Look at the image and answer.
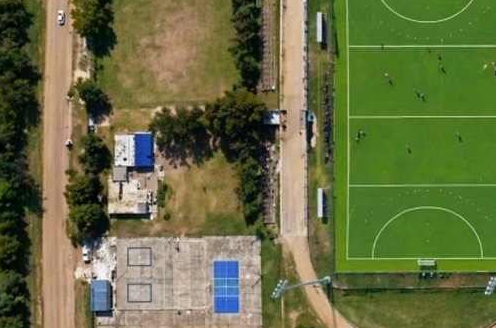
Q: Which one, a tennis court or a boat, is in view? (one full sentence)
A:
I can see a tennis court in this picture.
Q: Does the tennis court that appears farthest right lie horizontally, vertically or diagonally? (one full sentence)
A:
In this picture, the tennis court that appears farthest right is oriented vertically.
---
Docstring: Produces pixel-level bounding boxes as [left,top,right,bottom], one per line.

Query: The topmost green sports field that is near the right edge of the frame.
[335,0,496,273]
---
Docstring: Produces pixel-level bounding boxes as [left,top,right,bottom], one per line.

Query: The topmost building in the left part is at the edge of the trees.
[114,133,163,182]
